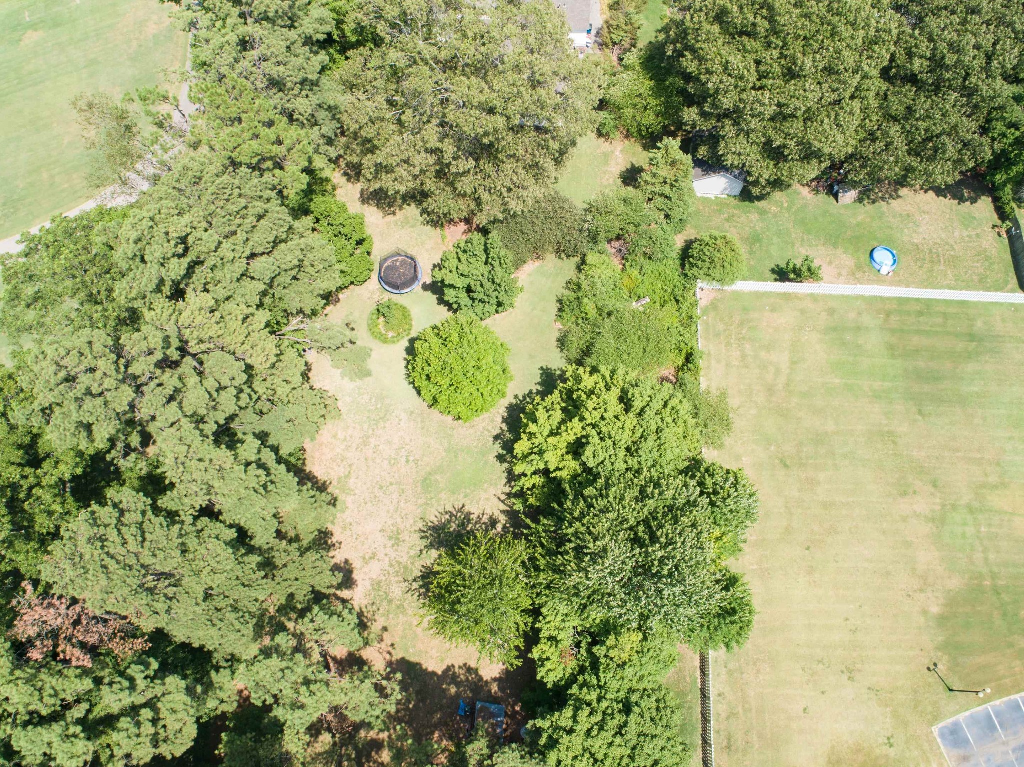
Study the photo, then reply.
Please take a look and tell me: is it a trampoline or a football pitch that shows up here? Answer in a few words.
trampoline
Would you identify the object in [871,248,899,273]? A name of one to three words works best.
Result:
swimming pool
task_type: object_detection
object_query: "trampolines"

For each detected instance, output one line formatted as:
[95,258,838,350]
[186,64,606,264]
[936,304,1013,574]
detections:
[379,248,424,299]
